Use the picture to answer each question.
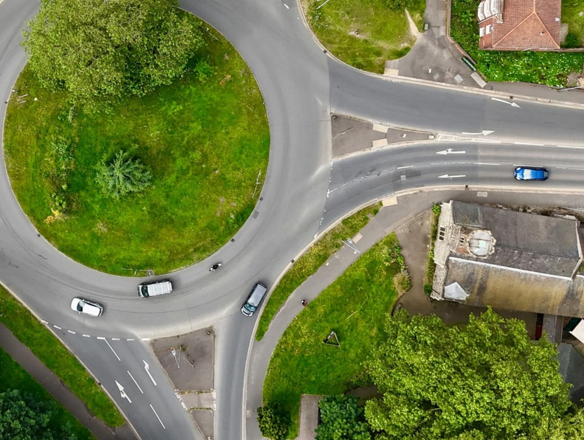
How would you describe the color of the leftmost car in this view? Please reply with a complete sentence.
The leftmost car looks white in the image.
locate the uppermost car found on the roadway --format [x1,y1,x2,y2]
[513,165,549,182]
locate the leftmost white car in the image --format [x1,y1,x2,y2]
[70,296,104,317]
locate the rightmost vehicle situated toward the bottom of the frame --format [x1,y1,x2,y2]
[242,280,267,317]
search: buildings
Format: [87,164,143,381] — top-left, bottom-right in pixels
[538,339,584,408]
[428,199,584,316]
[474,0,562,53]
